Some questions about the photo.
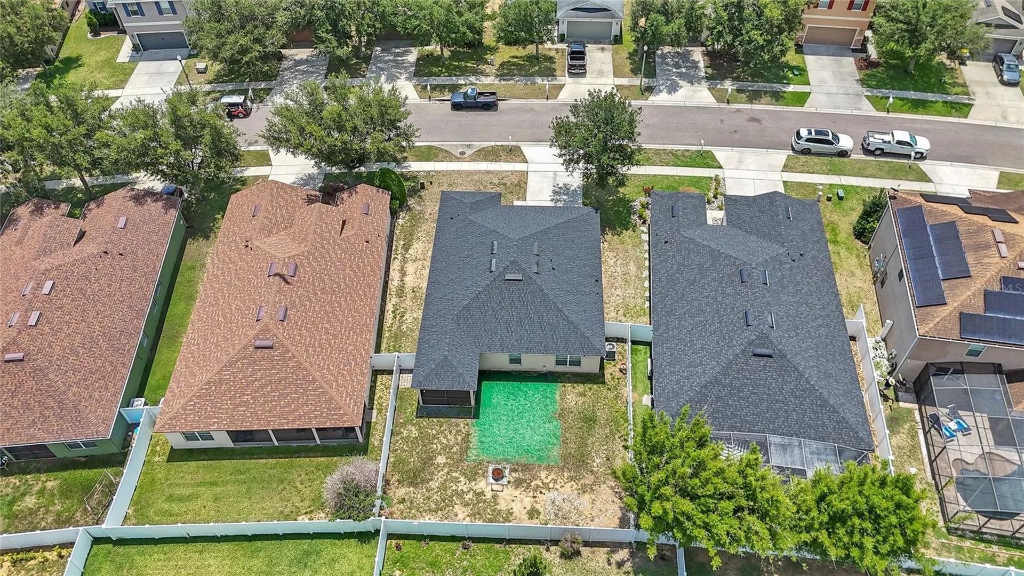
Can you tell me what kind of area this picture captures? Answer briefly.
residential area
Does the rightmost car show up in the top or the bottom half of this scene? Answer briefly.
top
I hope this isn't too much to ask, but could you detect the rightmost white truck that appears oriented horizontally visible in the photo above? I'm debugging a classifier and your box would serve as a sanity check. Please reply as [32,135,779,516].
[867,133,935,161]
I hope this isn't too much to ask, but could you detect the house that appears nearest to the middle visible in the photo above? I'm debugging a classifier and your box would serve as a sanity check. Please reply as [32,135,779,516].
[410,190,607,417]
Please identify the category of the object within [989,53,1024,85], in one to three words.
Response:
car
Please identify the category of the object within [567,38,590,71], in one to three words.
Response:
truck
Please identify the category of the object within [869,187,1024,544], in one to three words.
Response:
house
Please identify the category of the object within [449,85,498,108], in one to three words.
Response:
truck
